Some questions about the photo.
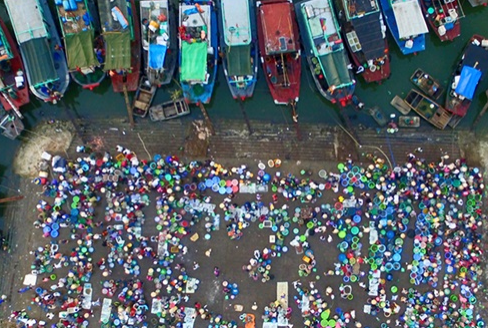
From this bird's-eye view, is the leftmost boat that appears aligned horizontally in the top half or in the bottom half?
top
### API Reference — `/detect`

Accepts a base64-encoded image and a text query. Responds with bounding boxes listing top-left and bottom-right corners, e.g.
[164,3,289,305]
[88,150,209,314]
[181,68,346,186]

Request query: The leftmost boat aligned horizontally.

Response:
[149,99,192,122]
